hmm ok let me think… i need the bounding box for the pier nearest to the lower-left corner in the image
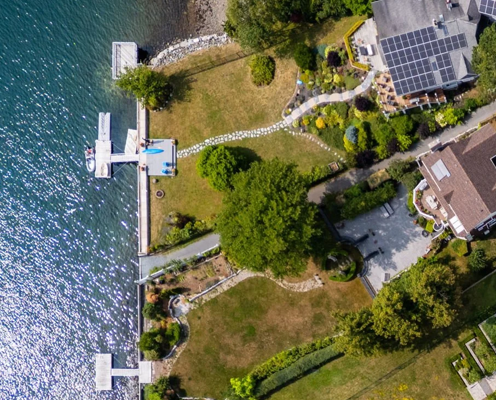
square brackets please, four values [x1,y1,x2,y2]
[95,354,153,390]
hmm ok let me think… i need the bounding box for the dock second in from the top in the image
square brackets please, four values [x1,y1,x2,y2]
[95,113,138,178]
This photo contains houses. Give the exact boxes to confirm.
[412,125,496,240]
[342,0,496,116]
